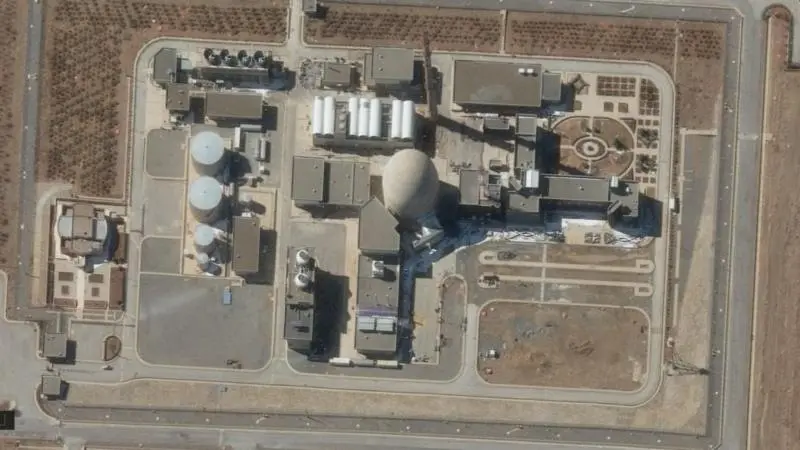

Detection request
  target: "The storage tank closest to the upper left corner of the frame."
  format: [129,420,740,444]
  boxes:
[191,132,225,177]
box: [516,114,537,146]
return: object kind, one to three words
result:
building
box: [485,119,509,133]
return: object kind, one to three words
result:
house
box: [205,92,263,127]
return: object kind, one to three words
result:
building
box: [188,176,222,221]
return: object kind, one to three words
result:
storage tank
